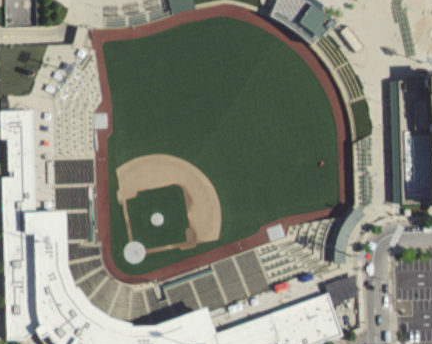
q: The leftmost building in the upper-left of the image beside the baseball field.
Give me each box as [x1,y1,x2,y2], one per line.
[68,28,88,50]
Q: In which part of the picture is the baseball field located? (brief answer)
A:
center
